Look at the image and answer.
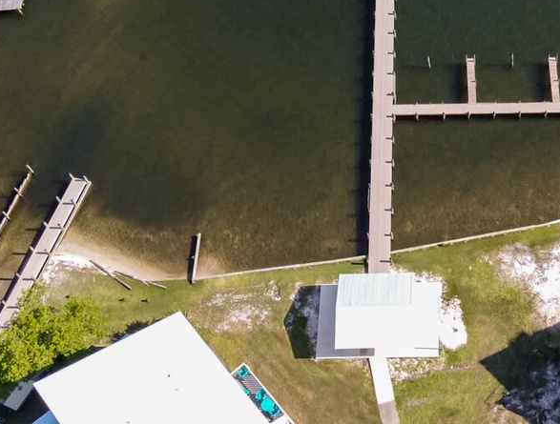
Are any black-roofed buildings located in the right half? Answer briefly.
No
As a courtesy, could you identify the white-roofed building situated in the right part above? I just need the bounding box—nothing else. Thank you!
[330,273,413,361]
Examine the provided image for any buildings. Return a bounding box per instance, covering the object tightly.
[33,311,297,424]
[330,273,413,361]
